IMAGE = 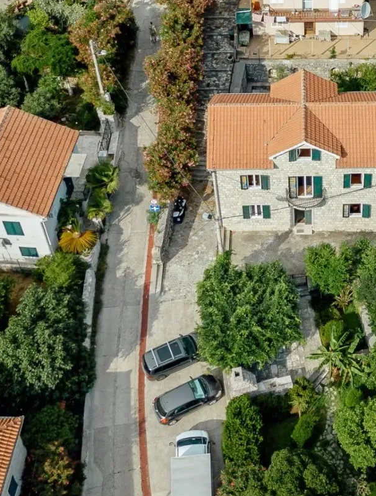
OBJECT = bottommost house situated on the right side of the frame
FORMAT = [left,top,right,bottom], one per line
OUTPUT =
[212,61,376,250]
